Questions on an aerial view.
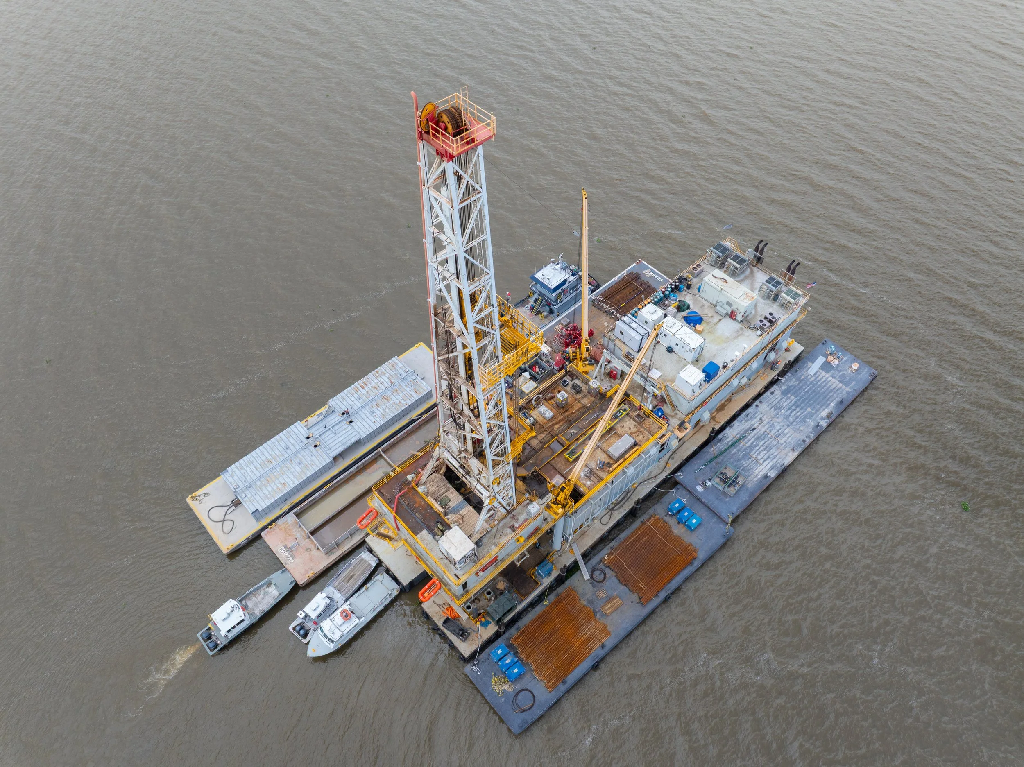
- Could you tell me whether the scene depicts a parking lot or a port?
port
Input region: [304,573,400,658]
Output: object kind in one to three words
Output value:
boat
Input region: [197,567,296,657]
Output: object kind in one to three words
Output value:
boat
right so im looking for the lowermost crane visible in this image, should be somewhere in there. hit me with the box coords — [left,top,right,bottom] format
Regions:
[540,321,664,552]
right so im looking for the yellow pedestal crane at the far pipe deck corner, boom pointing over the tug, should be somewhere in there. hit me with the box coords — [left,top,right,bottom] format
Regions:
[569,184,601,368]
